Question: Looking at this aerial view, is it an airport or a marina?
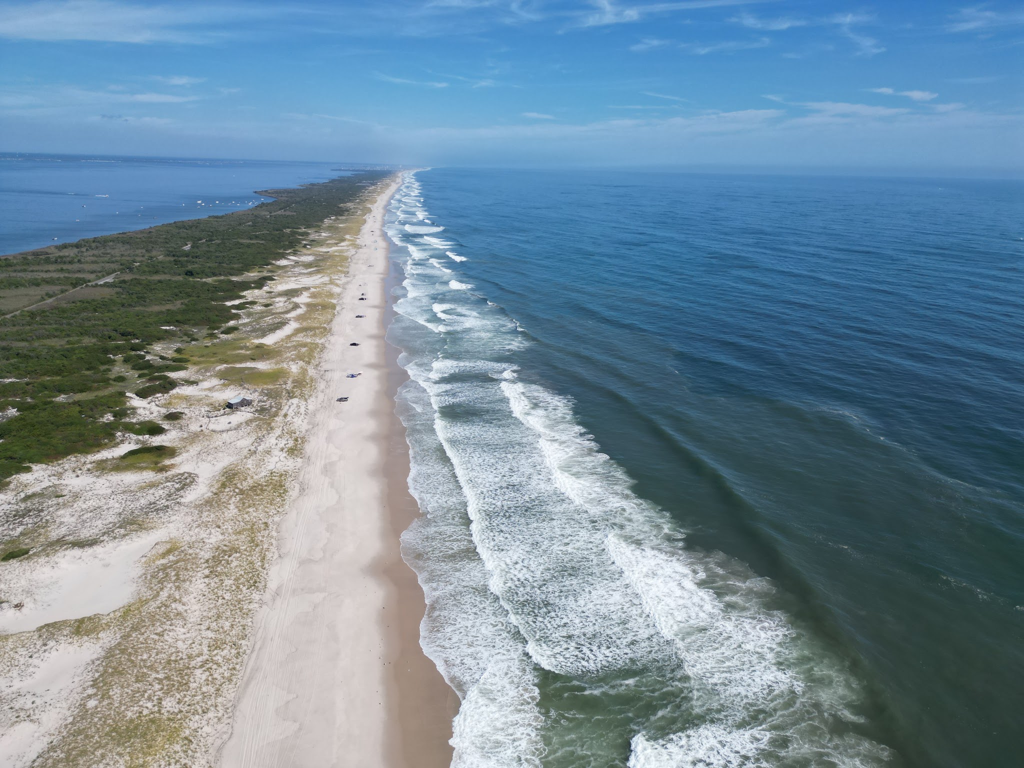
marina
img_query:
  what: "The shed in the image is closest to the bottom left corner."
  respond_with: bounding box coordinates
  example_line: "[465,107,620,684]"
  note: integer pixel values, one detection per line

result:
[225,389,252,407]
